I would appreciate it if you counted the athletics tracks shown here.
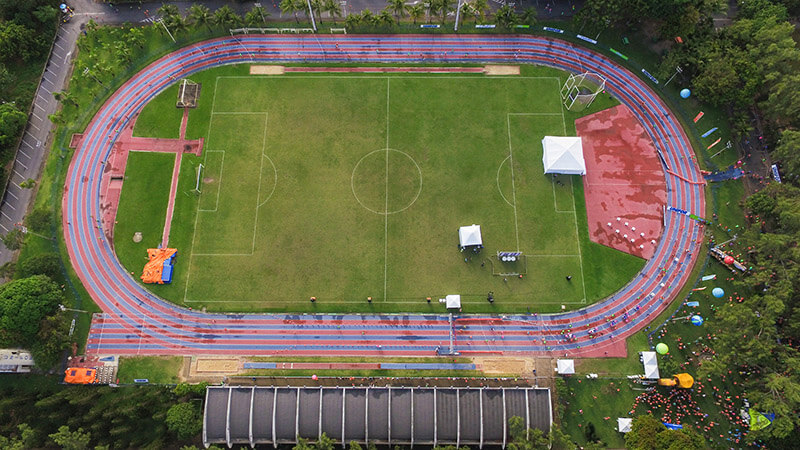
one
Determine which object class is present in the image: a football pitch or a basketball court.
football pitch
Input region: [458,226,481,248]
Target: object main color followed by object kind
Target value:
white tent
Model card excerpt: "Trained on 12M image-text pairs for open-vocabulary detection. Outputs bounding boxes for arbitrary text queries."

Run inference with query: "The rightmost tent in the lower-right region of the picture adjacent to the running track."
[638,352,659,378]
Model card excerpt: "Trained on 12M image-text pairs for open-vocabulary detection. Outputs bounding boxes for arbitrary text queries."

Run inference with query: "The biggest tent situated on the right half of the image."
[541,136,585,178]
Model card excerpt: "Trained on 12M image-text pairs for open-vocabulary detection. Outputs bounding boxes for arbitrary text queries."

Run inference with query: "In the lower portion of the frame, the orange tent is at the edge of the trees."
[64,366,102,383]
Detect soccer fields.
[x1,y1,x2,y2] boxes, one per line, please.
[177,73,593,308]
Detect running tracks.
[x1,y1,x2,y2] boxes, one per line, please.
[61,34,706,357]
